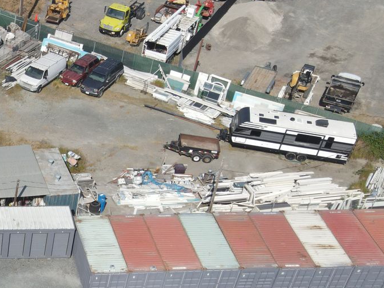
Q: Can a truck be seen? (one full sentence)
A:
Yes, there's a truck down there.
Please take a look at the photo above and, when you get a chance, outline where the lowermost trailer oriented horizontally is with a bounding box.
[150,132,215,164]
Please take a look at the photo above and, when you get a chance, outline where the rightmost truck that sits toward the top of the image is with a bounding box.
[317,66,368,116]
